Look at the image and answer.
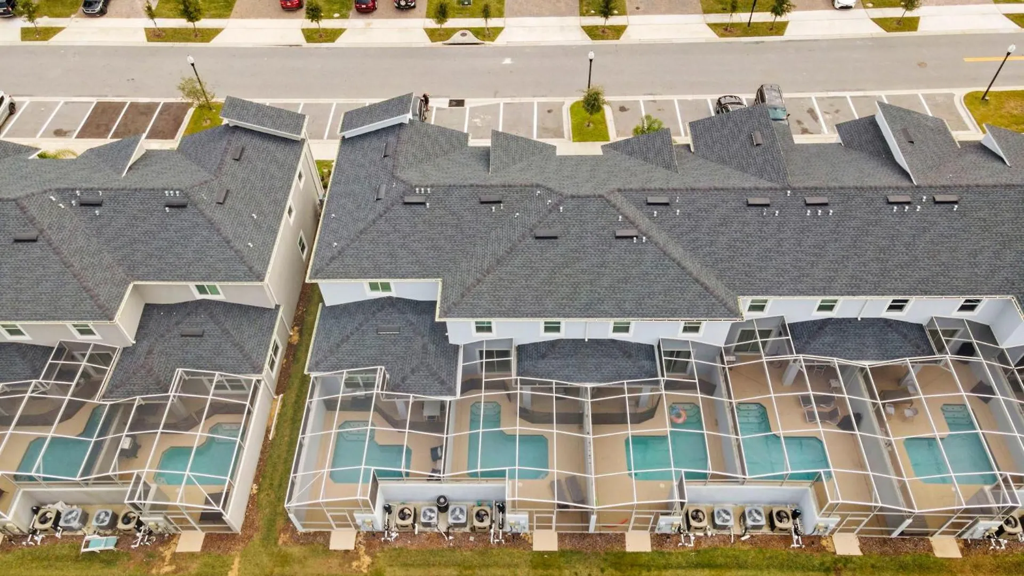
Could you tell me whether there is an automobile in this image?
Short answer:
Yes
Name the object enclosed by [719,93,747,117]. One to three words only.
car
